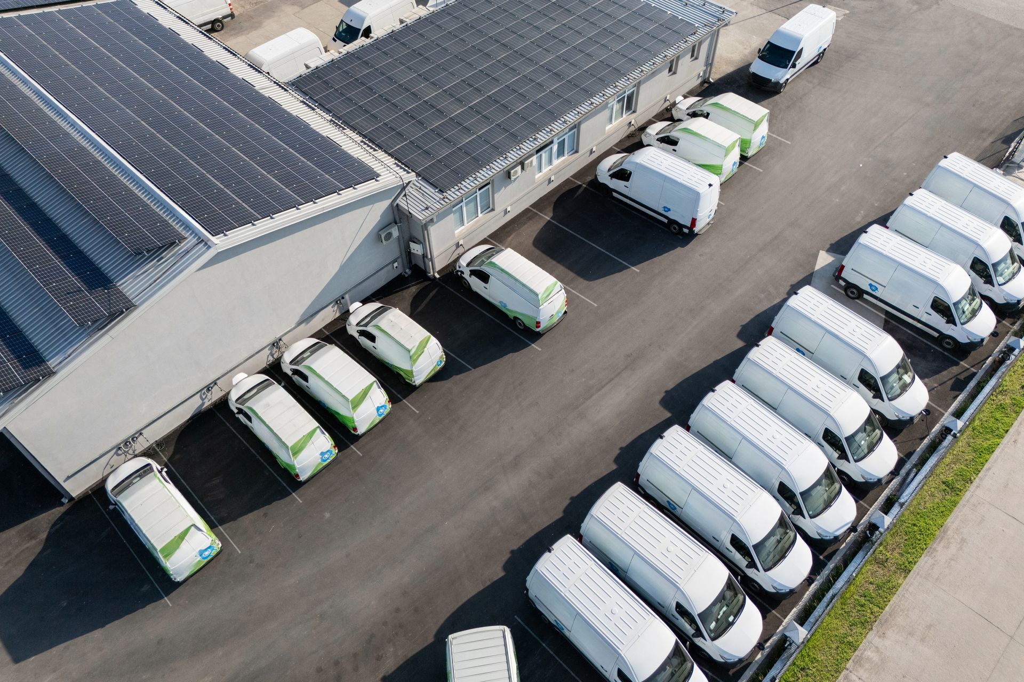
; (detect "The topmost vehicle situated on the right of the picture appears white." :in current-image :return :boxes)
[746,2,838,92]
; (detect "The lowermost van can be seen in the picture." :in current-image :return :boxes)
[448,634,518,682]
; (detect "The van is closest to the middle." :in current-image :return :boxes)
[460,249,565,334]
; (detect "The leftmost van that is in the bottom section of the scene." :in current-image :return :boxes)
[105,461,224,585]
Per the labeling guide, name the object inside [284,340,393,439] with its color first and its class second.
white van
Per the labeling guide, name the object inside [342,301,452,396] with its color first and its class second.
white van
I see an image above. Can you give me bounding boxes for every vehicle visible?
[746,2,838,92]
[145,0,228,38]
[105,461,224,585]
[224,377,340,485]
[643,116,742,183]
[460,249,565,334]
[686,377,860,544]
[243,32,326,85]
[529,534,712,682]
[582,481,769,669]
[598,144,723,237]
[731,330,901,486]
[919,150,1024,266]
[767,283,936,428]
[833,222,1002,350]
[634,423,817,600]
[325,0,414,52]
[284,340,393,439]
[342,301,452,396]
[670,92,771,159]
[448,634,518,682]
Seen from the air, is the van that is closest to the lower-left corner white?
Yes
